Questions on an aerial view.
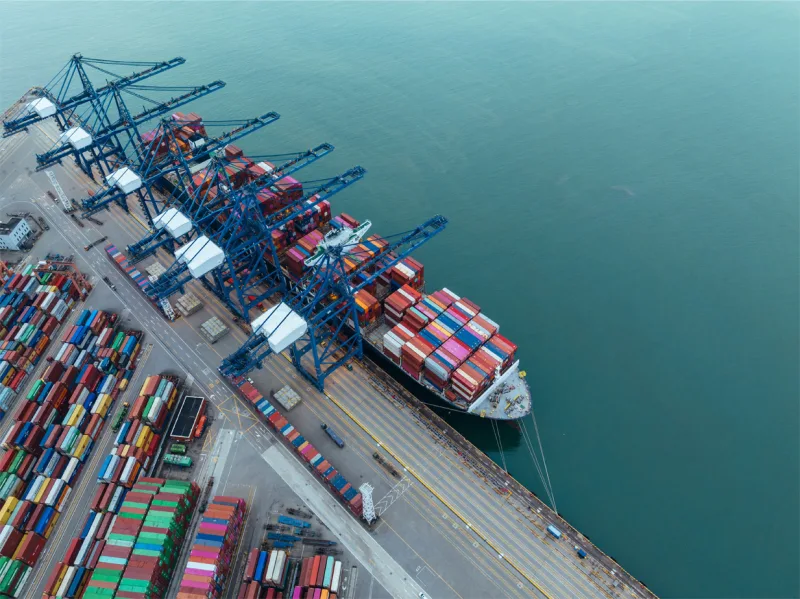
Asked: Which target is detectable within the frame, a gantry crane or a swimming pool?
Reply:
gantry crane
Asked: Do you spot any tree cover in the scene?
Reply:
No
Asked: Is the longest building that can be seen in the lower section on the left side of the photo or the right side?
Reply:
left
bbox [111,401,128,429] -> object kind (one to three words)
vehicle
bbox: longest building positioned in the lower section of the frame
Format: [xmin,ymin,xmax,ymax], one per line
[169,394,208,444]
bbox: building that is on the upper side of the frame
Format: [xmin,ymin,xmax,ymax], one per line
[0,217,31,247]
